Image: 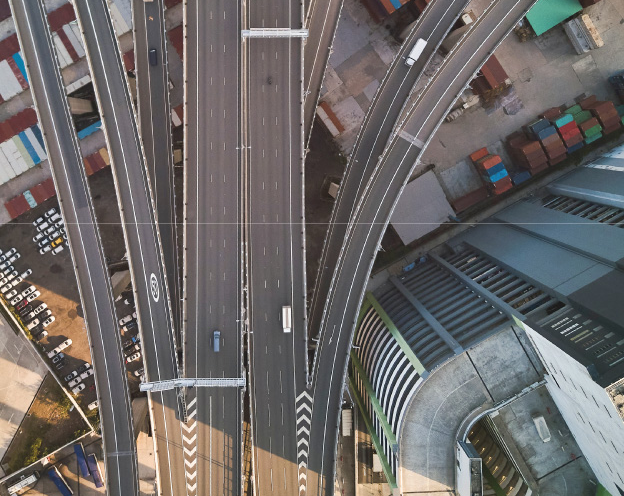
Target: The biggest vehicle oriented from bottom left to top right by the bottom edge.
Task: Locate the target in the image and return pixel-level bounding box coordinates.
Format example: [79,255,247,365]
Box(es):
[10,469,43,495]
